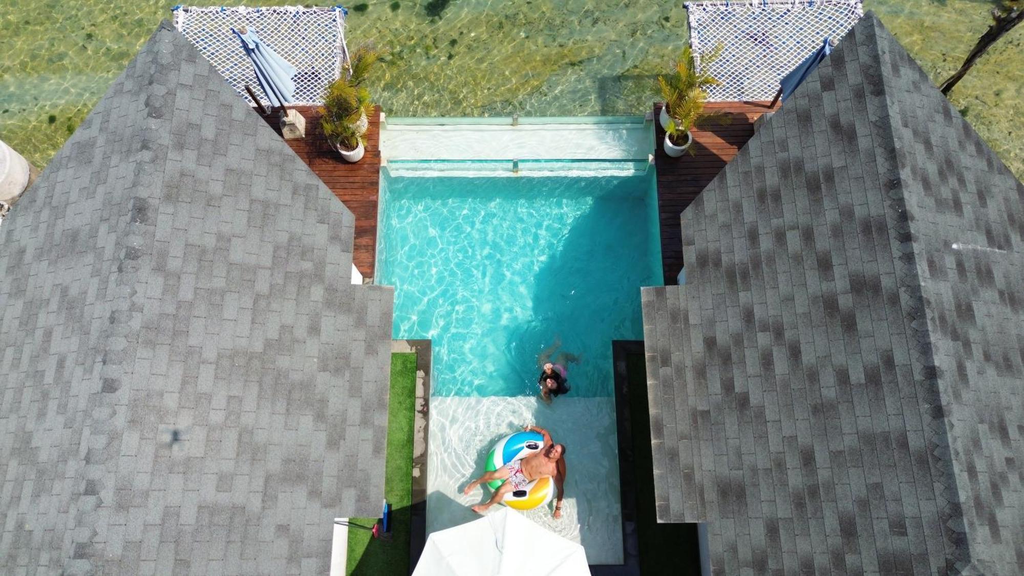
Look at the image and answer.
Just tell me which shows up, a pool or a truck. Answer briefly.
pool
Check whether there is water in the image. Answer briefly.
Yes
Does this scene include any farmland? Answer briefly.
No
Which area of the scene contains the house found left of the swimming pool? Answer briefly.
left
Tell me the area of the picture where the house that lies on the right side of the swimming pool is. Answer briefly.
right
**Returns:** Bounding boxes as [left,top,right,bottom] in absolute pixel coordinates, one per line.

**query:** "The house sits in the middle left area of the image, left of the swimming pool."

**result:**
[0,20,397,576]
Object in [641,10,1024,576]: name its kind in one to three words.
house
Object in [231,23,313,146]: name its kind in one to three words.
umbrella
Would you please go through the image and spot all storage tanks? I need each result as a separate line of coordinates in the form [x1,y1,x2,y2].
[0,136,34,207]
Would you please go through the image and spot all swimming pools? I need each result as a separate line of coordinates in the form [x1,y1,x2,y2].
[380,163,658,564]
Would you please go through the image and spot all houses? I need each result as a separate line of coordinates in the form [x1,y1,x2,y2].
[0,20,397,576]
[641,10,1024,576]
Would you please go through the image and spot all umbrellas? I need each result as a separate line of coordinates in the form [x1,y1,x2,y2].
[231,23,313,146]
[754,39,837,133]
[411,508,588,576]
